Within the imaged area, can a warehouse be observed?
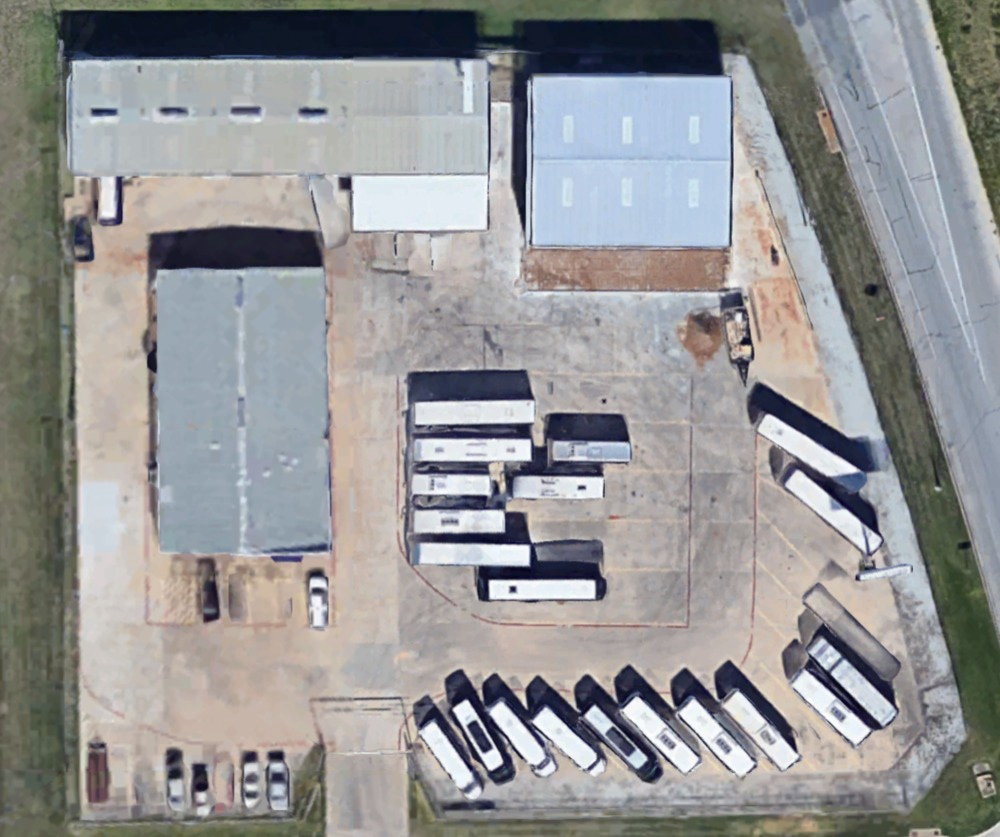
Yes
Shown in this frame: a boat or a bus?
bus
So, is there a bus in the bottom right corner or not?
Yes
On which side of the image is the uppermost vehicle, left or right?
left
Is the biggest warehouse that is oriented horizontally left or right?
left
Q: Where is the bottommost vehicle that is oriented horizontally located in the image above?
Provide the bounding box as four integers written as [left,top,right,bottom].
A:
[476,577,604,605]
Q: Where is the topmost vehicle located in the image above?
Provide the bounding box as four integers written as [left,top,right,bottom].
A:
[96,177,123,229]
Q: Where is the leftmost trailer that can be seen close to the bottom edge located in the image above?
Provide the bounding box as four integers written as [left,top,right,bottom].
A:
[86,737,109,803]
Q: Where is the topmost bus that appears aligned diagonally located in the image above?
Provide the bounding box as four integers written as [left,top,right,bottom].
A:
[753,414,866,500]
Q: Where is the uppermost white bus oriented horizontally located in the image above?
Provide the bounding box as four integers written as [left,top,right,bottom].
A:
[410,400,535,430]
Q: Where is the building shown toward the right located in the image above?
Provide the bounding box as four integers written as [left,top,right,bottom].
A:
[526,74,730,251]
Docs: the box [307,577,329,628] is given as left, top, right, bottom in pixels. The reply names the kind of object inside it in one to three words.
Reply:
truck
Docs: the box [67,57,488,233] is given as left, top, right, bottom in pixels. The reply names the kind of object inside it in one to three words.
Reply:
warehouse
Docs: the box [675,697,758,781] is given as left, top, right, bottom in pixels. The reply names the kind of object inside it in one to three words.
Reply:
bus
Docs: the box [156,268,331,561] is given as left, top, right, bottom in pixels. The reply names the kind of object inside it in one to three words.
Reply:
building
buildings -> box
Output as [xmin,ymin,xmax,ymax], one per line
[67,57,488,233]
[526,74,730,251]
[156,268,331,561]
